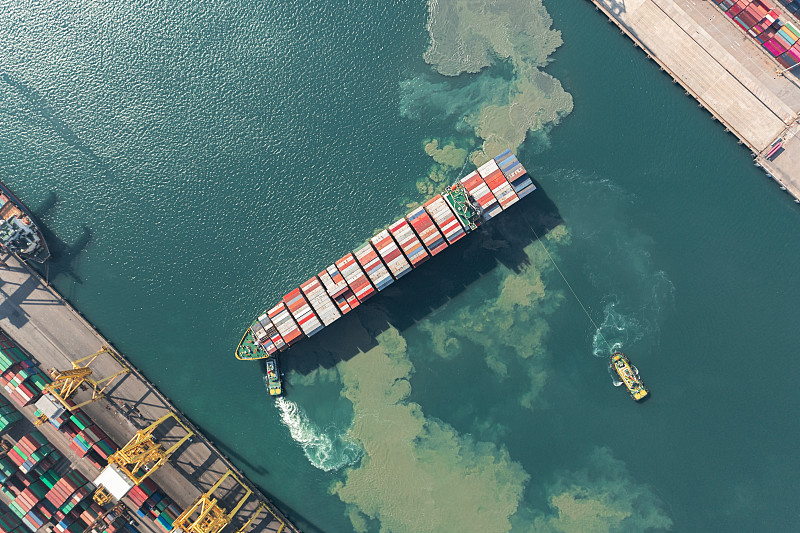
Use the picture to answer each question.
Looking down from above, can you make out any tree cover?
No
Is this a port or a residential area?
port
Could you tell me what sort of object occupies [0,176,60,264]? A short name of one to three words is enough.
ship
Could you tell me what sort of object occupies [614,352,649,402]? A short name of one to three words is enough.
boat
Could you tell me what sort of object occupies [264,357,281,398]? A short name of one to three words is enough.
boat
